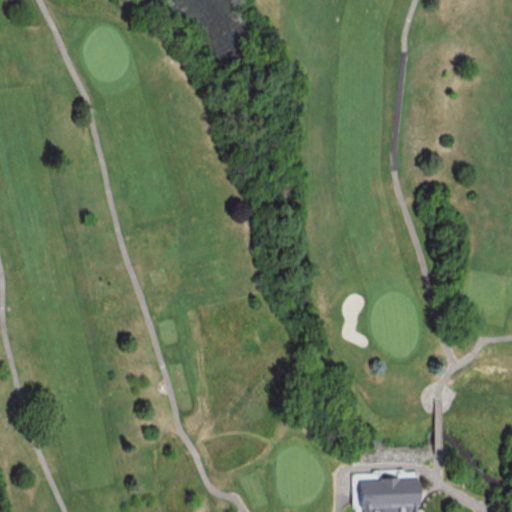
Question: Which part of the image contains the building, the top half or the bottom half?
bottom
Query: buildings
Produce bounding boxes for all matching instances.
[351,468,421,512]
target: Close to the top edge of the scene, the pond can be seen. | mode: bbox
[174,0,238,58]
